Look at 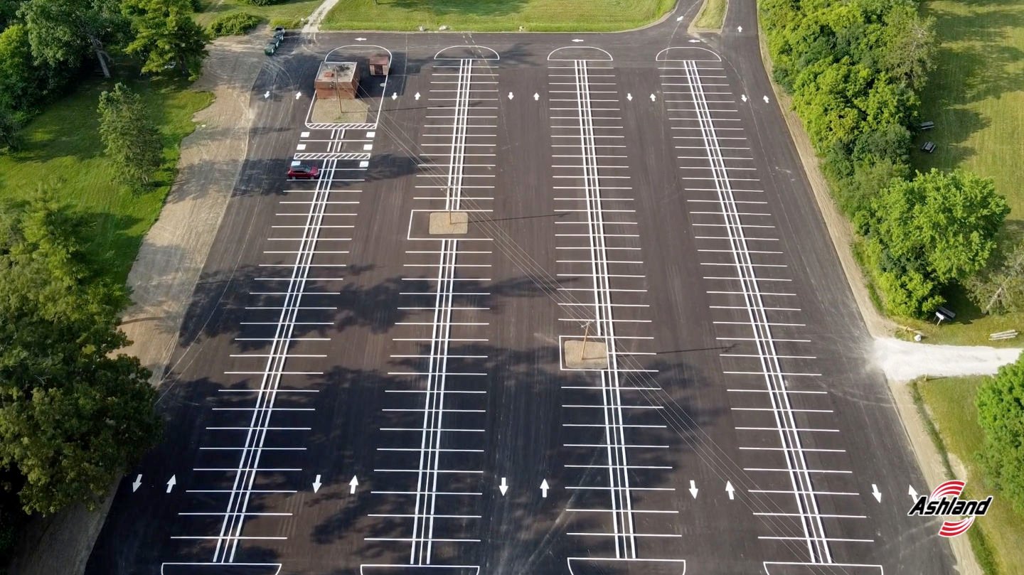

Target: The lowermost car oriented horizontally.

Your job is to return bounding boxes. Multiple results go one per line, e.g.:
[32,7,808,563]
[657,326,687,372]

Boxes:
[288,164,319,179]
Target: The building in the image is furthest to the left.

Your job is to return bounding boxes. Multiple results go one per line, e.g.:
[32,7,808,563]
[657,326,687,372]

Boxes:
[315,61,358,98]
